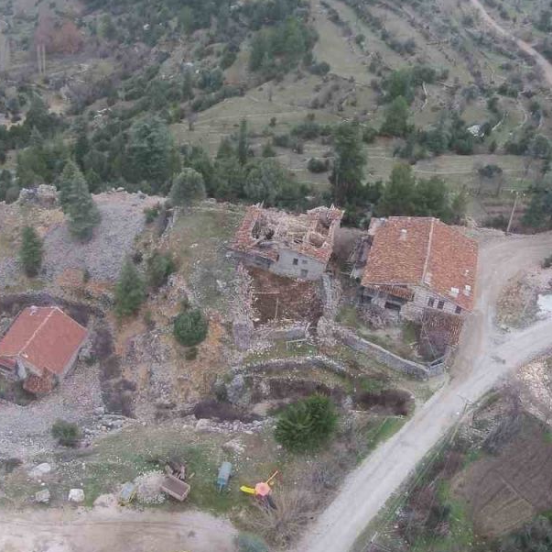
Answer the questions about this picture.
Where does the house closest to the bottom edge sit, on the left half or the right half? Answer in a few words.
left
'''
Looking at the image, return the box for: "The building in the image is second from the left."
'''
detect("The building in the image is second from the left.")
[232,205,342,287]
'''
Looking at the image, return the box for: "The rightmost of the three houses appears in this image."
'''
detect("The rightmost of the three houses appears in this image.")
[360,216,479,350]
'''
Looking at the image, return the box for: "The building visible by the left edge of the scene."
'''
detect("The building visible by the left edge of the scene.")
[0,306,88,409]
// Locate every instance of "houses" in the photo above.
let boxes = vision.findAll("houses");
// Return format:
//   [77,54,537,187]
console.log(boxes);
[232,205,342,287]
[360,216,479,350]
[0,306,88,409]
